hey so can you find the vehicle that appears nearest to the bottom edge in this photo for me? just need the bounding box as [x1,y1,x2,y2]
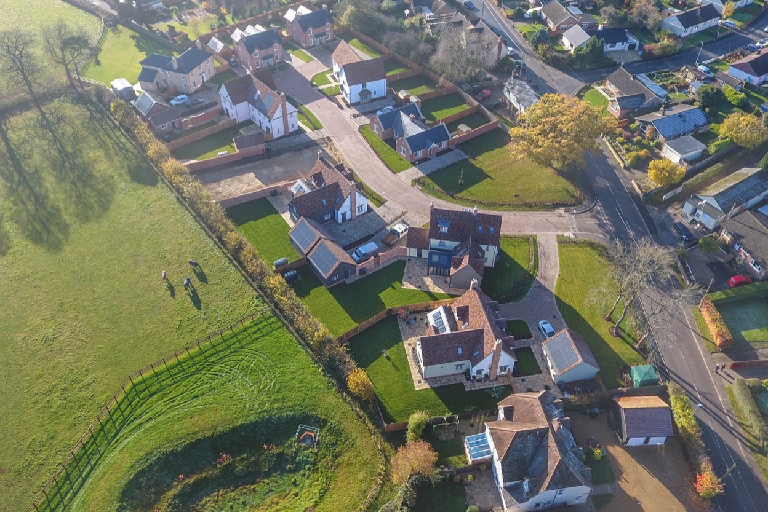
[534,316,557,340]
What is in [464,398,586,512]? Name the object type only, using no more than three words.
house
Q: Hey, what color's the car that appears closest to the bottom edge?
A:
blue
